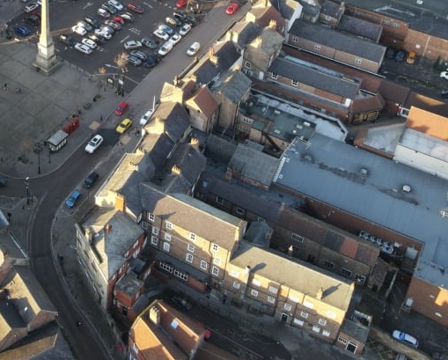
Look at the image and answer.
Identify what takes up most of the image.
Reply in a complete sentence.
For the most part, this view shows buildings.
